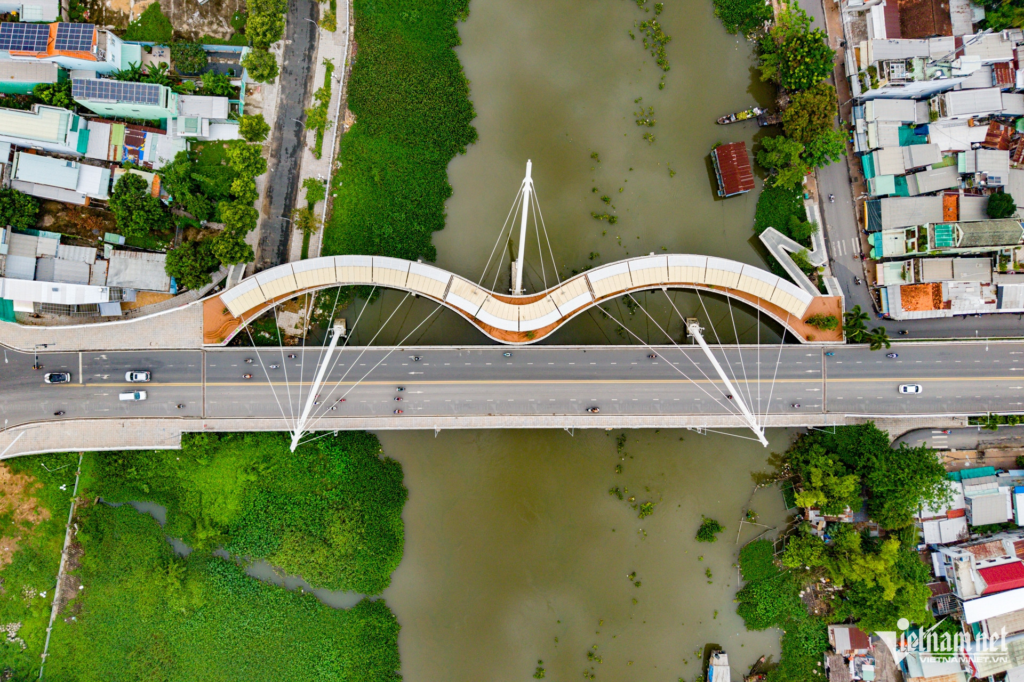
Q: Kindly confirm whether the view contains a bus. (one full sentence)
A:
No, the scene contains no bus.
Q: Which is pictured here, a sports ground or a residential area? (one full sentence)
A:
What you see here is a residential area.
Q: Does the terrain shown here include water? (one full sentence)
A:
Yes, some water is visible.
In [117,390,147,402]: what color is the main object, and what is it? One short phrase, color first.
white vehicle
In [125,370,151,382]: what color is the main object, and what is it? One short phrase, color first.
white vehicle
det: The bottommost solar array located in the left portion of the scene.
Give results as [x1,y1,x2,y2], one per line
[73,79,159,104]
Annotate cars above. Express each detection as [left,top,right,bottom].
[117,390,147,402]
[899,384,922,395]
[44,372,71,384]
[125,370,151,382]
